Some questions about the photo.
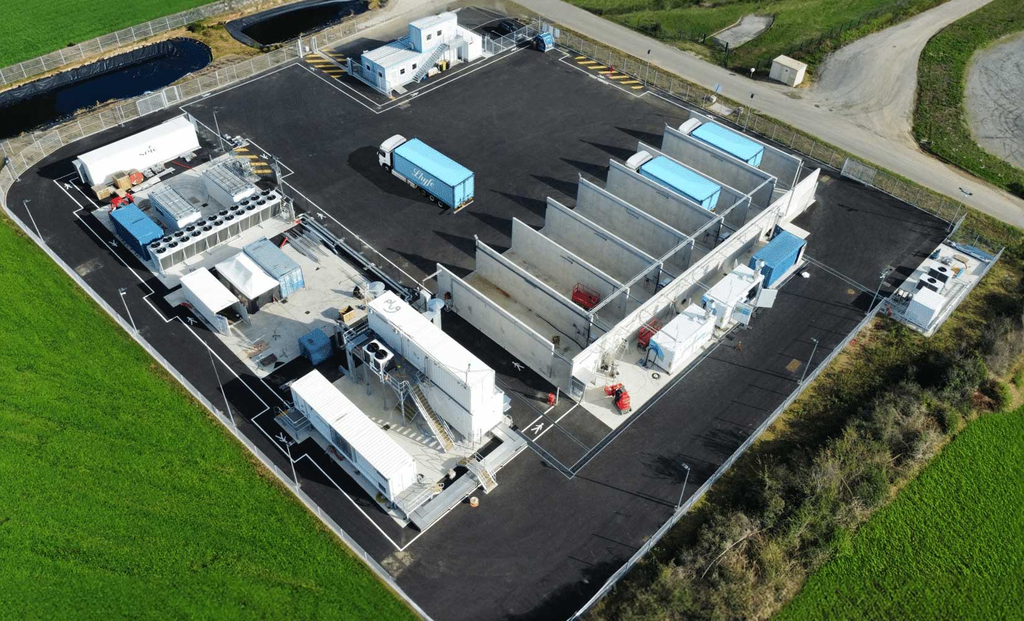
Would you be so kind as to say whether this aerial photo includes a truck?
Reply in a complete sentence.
Yes, the frame does contain a truck.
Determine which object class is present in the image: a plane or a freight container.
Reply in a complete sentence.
Looking from above, you can make out a freight container.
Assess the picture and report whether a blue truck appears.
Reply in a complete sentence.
Yes, there's a blue truck here.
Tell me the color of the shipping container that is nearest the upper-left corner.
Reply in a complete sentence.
From above, the shipping container that is nearest the upper-left corner appears white.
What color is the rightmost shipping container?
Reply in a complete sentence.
From above, the rightmost shipping container appears blue.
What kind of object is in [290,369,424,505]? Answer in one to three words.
shipping container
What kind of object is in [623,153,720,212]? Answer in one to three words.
truck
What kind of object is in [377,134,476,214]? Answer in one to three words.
truck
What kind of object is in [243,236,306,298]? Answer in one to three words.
shipping container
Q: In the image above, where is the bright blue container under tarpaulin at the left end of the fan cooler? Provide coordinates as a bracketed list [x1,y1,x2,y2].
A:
[111,205,166,264]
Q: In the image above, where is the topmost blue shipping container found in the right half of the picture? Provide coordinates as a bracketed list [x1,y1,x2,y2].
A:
[749,230,813,287]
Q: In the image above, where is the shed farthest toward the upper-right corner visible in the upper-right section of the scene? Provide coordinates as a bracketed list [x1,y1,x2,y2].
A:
[772,53,813,86]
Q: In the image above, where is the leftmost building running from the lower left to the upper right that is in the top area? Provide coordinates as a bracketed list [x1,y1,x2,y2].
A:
[360,10,460,93]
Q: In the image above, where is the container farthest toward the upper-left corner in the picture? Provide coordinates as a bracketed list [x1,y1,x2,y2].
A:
[67,115,201,184]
